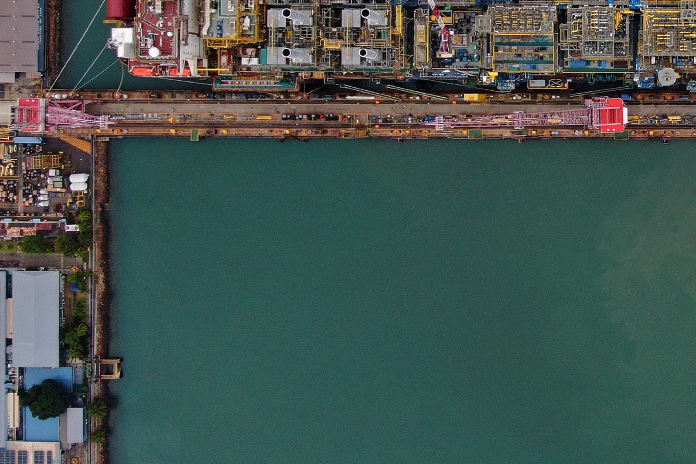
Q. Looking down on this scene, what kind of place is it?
port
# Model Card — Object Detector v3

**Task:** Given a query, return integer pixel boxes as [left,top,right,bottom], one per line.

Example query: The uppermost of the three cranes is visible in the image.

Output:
[428,0,453,61]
